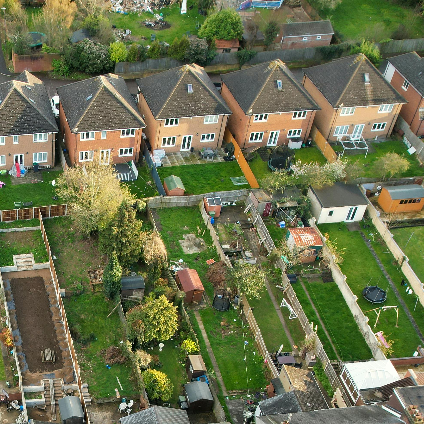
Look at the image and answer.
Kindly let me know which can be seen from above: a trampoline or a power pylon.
trampoline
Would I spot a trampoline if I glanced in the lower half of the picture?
Yes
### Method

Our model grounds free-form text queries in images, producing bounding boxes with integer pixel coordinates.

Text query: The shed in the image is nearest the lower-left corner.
[55,389,86,424]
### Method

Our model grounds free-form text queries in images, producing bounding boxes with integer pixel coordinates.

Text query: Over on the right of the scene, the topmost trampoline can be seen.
[265,138,298,169]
